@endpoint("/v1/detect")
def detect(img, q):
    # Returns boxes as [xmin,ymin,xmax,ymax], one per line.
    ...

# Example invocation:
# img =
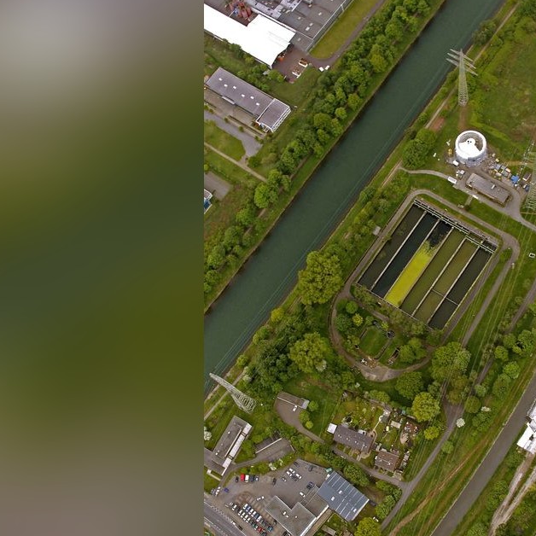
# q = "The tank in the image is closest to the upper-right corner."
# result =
[455,131,486,166]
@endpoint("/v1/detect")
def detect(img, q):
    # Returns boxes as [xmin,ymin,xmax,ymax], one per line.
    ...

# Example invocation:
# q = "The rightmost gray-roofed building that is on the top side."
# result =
[467,173,511,206]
